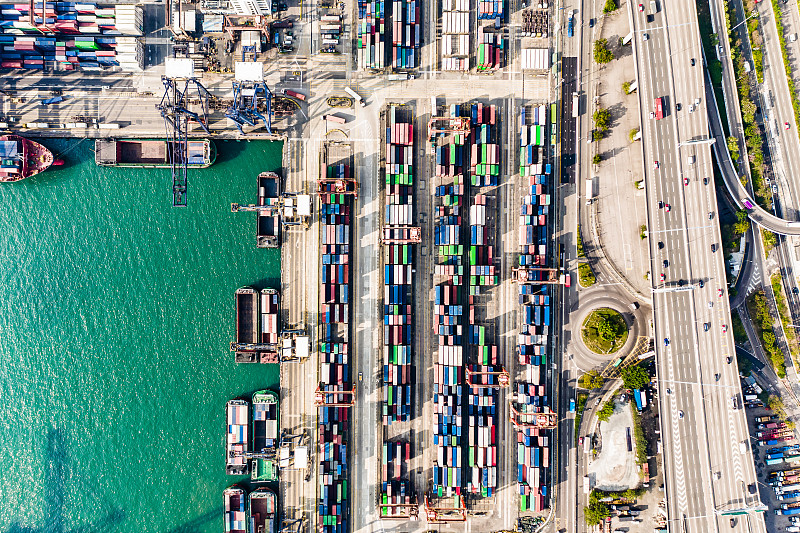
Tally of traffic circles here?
one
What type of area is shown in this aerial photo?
port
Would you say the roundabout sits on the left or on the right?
right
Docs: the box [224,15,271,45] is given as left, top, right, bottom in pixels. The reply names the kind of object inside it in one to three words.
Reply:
container crane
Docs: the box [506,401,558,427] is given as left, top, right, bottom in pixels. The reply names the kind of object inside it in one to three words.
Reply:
container crane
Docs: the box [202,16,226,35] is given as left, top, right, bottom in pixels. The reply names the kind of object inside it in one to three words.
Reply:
shed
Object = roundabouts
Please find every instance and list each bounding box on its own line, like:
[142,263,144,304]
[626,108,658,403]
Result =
[566,292,645,370]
